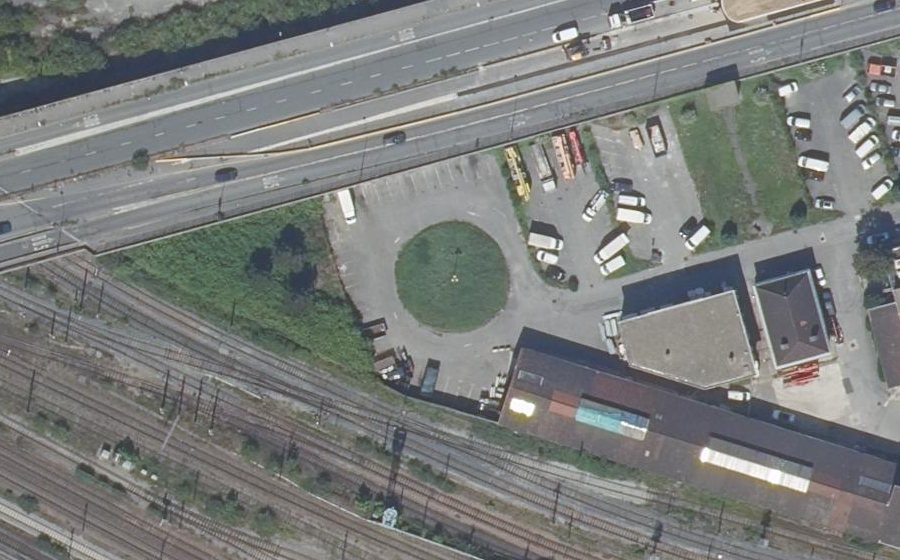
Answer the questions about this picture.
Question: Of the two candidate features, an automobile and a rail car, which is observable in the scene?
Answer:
automobile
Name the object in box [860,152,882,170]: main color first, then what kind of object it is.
white car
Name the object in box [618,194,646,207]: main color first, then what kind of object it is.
white vehicle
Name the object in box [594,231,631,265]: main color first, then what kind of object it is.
white van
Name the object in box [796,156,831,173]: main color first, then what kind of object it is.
white vehicle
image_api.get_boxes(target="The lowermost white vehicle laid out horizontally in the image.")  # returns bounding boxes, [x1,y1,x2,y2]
[726,389,751,403]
